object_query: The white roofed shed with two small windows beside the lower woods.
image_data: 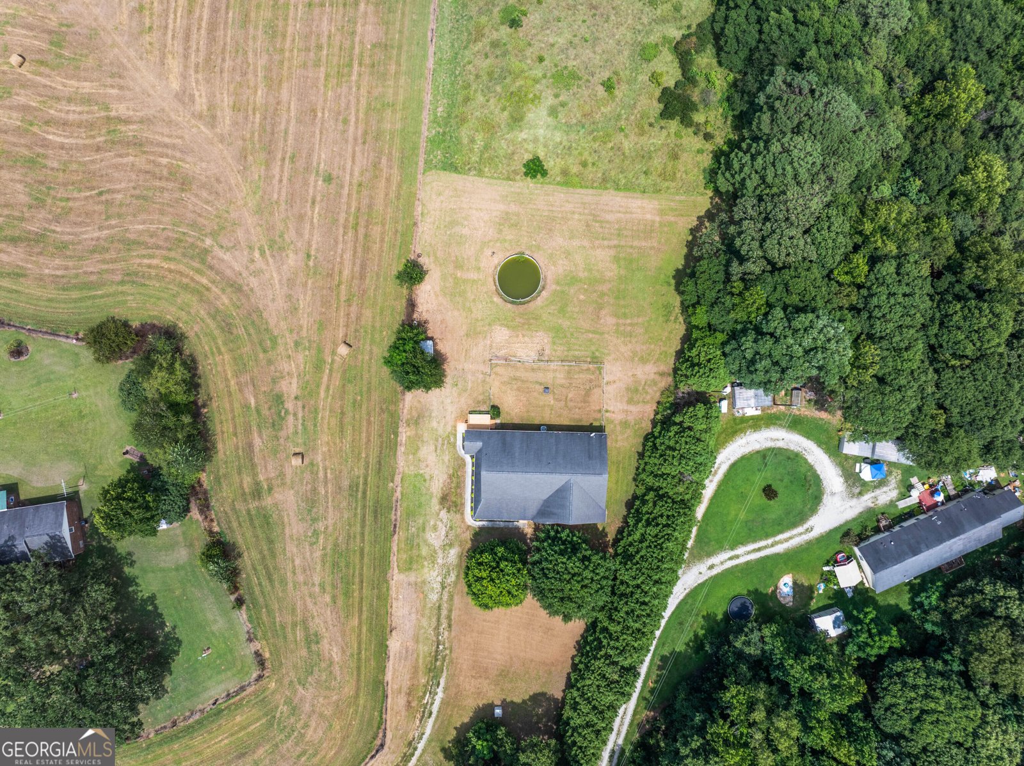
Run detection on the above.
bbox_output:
[809,607,848,639]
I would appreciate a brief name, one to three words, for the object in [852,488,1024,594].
house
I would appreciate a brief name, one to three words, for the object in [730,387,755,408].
shed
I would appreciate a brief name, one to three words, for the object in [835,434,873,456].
shed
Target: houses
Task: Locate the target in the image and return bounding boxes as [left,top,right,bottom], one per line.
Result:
[852,488,1024,594]
[0,501,86,570]
[464,429,609,526]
